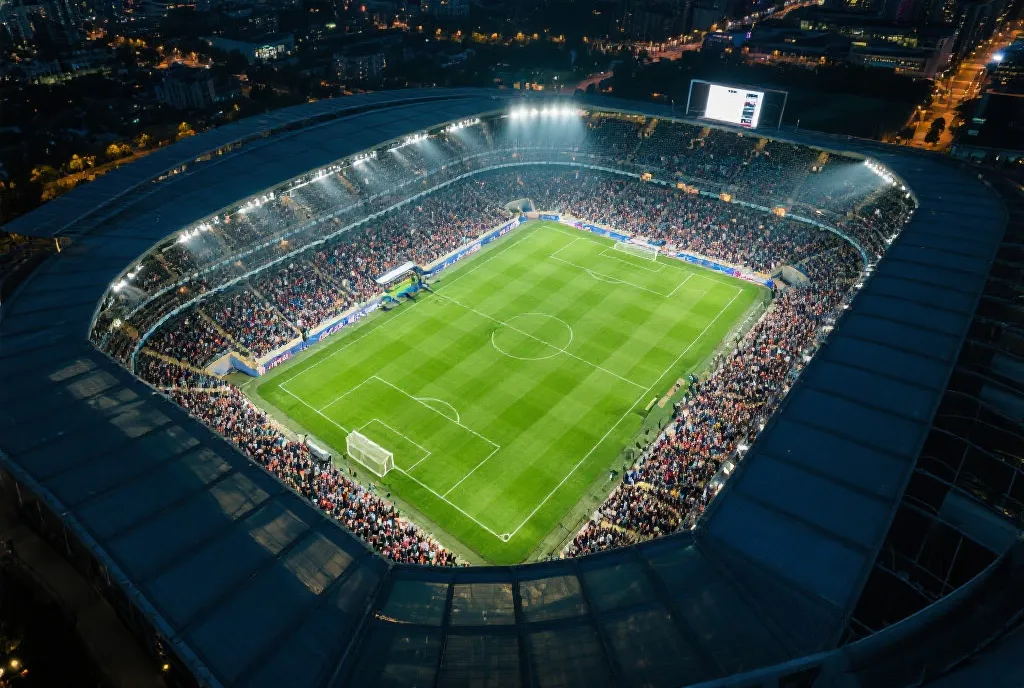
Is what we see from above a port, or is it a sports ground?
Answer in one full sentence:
The picture captures a sports ground.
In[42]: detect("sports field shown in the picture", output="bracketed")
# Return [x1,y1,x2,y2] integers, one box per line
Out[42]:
[262,218,752,554]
